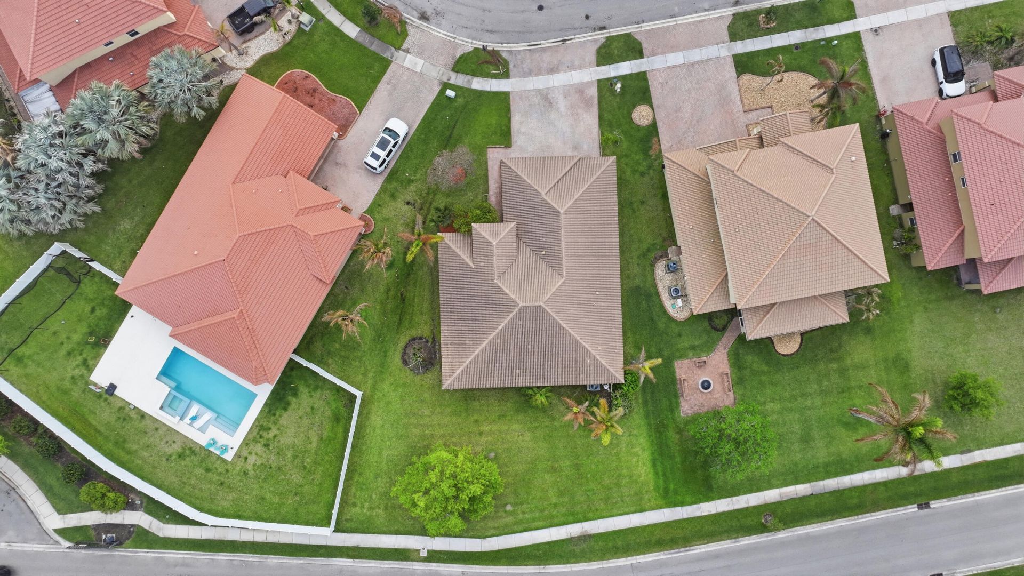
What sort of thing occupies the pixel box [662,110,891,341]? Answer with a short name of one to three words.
house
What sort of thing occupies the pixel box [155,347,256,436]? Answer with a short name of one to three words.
swimming pool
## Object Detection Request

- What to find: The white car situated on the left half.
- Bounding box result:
[364,118,407,175]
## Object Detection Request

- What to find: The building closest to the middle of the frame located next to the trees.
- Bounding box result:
[436,155,624,390]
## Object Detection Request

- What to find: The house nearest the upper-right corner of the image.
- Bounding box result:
[880,65,1024,295]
